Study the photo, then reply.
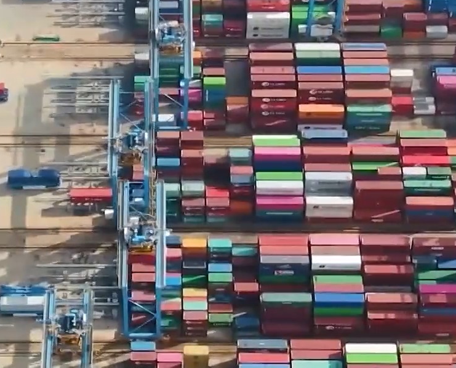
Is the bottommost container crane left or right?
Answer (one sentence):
You can find the bottommost container crane on the left side of the picture.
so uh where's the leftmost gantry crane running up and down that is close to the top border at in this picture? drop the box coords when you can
[149,0,196,136]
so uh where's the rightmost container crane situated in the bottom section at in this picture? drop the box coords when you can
[114,183,170,343]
